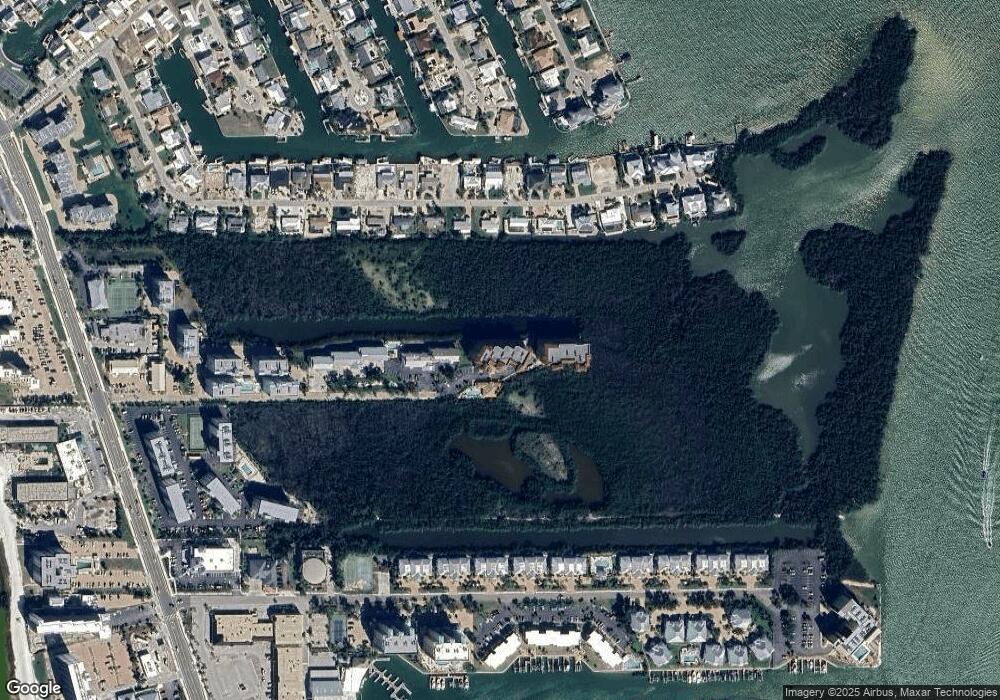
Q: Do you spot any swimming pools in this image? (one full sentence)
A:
Yes, the photo shows a swimming pool.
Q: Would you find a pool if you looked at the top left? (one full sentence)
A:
Yes, a pool is visible at the top left.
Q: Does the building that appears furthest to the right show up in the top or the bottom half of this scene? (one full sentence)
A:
You can find the building that appears furthest to the right in the bottom half.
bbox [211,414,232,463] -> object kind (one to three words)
building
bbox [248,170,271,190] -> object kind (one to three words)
house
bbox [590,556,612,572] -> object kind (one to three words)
swimming pool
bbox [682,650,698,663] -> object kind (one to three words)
swimming pool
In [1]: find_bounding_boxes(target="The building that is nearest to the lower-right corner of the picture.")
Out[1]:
[829,587,879,653]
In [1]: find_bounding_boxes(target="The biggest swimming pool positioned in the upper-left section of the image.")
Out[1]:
[83,154,111,183]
